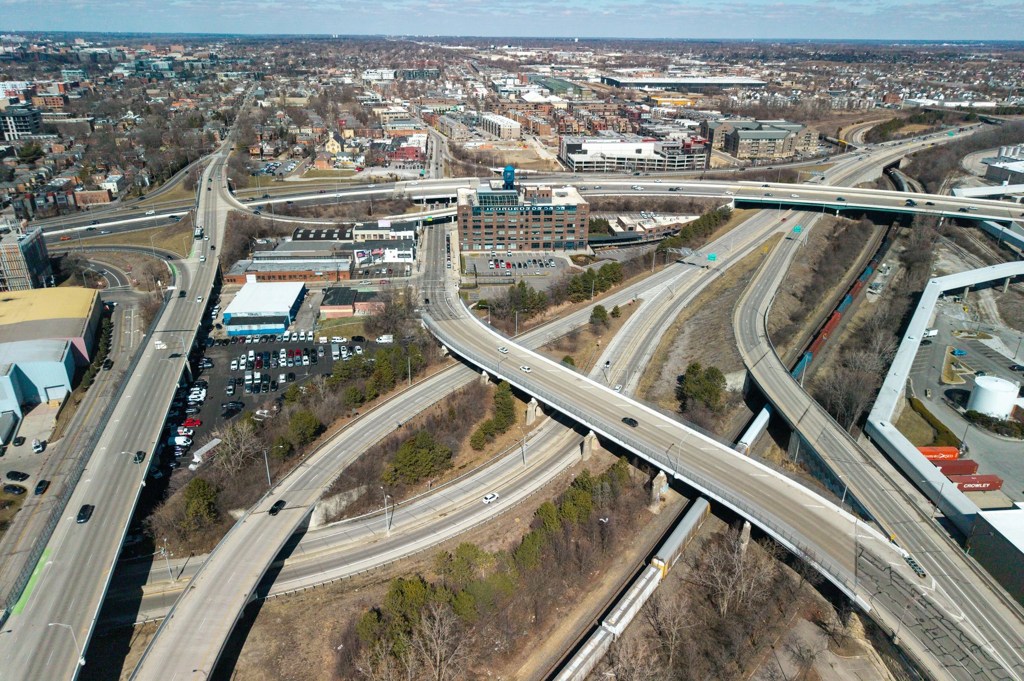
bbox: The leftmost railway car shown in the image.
[553,620,616,681]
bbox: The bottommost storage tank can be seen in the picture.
[967,371,1024,423]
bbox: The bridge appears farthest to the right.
[419,289,1021,681]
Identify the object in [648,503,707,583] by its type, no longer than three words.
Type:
rail car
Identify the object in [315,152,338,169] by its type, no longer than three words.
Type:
house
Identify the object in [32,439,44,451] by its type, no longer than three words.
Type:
vehicle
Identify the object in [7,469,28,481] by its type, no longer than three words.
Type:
vehicle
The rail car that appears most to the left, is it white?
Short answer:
Yes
